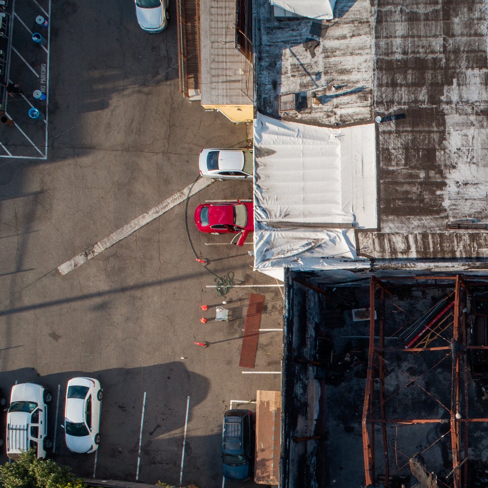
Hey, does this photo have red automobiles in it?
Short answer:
Yes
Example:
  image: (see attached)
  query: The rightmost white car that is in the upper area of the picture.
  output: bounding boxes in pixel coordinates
[197,147,254,183]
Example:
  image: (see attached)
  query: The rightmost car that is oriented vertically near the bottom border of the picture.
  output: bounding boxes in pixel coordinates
[220,411,256,483]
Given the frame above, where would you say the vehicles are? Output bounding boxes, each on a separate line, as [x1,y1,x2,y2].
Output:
[195,201,258,246]
[133,0,172,37]
[220,411,256,483]
[6,383,53,459]
[63,380,105,453]
[197,147,254,183]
